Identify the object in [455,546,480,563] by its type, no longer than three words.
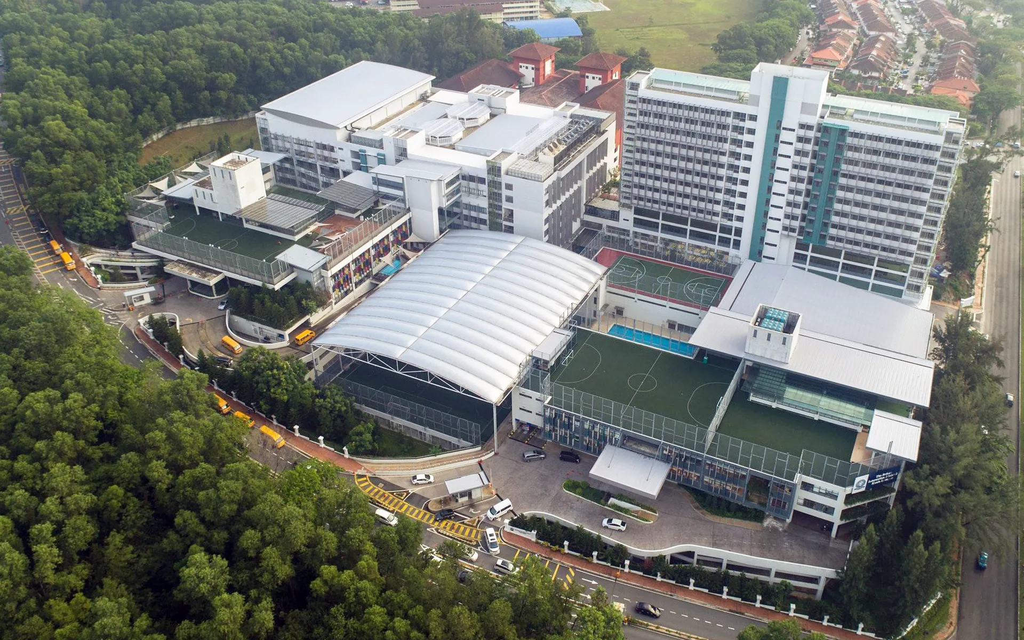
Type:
car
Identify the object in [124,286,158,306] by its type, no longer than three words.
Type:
shed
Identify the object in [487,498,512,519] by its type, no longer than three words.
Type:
vehicle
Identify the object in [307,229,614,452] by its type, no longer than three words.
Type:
building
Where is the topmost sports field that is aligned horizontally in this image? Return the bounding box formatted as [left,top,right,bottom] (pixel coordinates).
[575,0,777,98]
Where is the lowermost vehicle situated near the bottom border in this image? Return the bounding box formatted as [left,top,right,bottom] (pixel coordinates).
[635,601,663,618]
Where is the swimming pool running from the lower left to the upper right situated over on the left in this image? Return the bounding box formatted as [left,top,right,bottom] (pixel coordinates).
[371,242,416,280]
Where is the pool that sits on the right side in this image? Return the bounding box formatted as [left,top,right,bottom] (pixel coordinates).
[589,310,703,358]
